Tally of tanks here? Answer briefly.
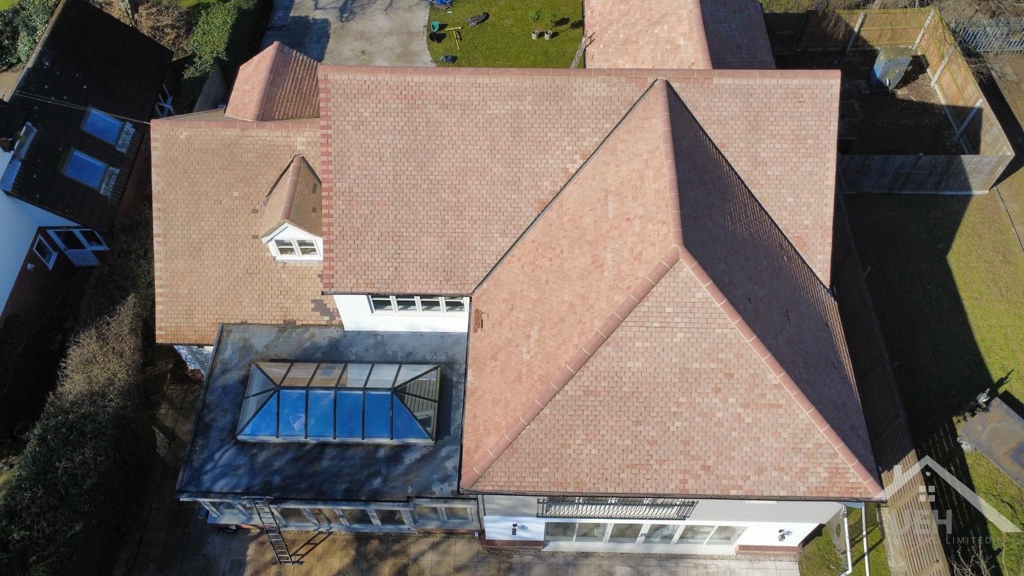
1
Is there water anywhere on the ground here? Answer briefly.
No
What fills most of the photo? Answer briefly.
buildings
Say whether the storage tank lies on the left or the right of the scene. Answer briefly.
right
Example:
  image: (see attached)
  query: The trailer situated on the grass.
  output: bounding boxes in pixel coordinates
[952,387,1024,493]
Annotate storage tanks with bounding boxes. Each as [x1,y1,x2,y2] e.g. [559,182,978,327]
[865,35,914,91]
